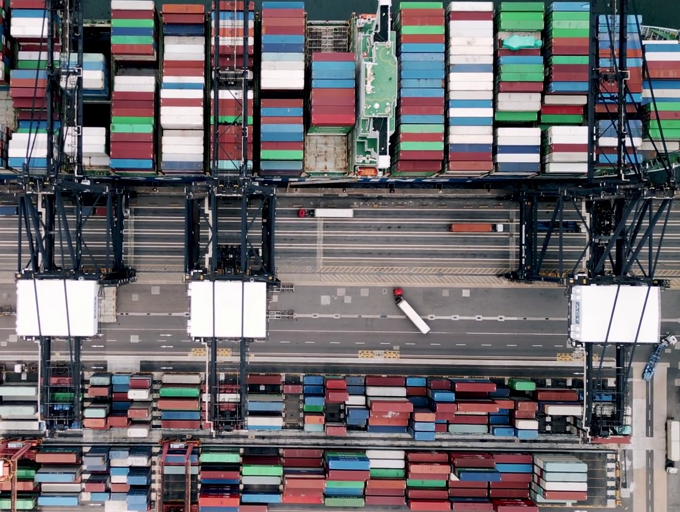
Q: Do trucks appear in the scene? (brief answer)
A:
Yes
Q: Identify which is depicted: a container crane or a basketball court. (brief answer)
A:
container crane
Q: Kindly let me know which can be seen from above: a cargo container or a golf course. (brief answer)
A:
cargo container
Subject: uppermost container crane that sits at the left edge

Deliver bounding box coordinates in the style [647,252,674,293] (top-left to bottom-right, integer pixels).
[15,0,138,446]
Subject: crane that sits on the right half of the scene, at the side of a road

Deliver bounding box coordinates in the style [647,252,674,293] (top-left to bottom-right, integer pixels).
[497,0,680,452]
